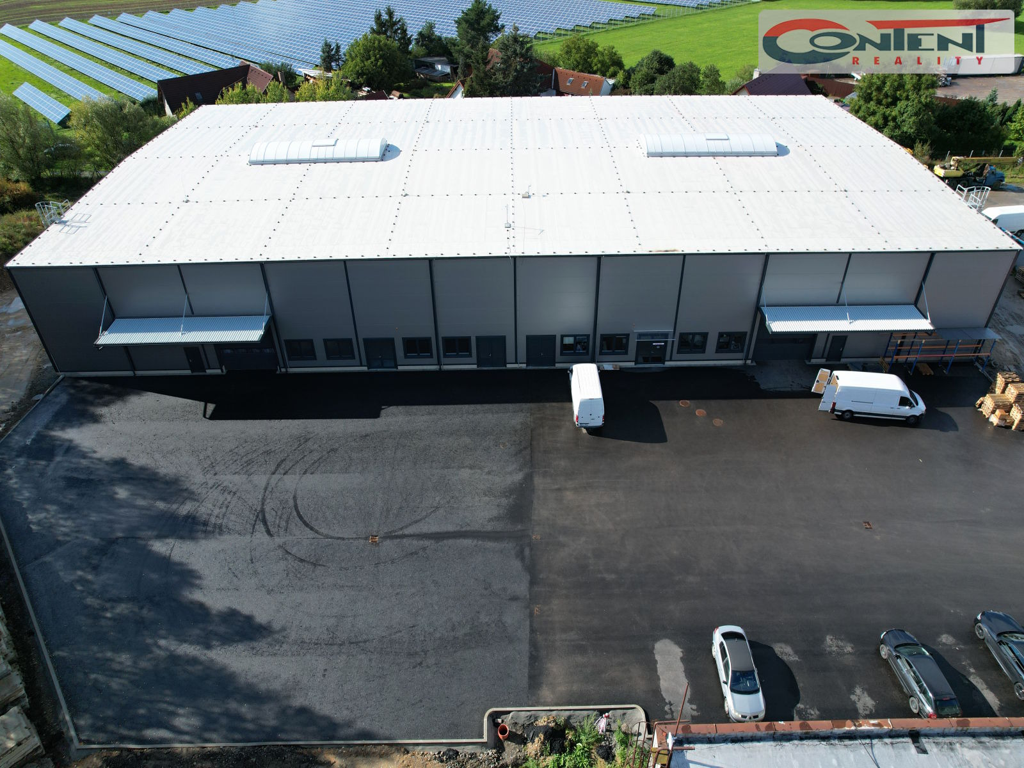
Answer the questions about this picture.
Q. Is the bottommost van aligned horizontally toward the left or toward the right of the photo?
right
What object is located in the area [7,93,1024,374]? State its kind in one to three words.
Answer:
warehouse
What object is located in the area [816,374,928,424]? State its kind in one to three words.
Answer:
van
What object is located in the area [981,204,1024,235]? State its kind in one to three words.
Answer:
van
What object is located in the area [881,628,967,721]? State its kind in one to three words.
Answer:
car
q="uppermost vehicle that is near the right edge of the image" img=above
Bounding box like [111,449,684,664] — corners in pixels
[927,157,1024,192]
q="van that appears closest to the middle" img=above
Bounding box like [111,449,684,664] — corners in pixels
[567,365,605,425]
